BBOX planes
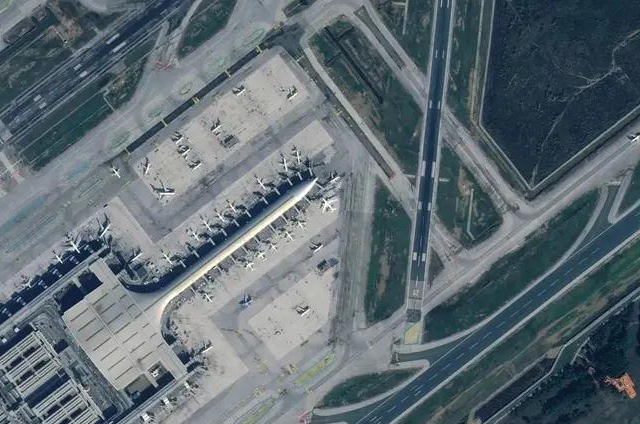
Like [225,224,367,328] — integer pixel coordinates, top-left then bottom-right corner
[256,178,266,189]
[143,162,154,175]
[52,252,63,263]
[110,166,120,177]
[292,149,304,162]
[236,86,248,96]
[313,243,325,252]
[190,229,200,241]
[214,210,224,221]
[245,261,256,272]
[270,242,279,253]
[159,185,176,201]
[301,307,313,316]
[280,158,291,170]
[202,219,212,230]
[131,251,143,261]
[329,174,341,183]
[23,275,33,287]
[101,223,114,237]
[181,146,193,155]
[192,162,204,170]
[227,201,237,213]
[174,134,187,144]
[323,196,339,213]
[241,297,254,305]
[64,234,80,252]
[288,90,300,100]
[286,230,296,242]
[202,344,215,353]
[212,123,224,132]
